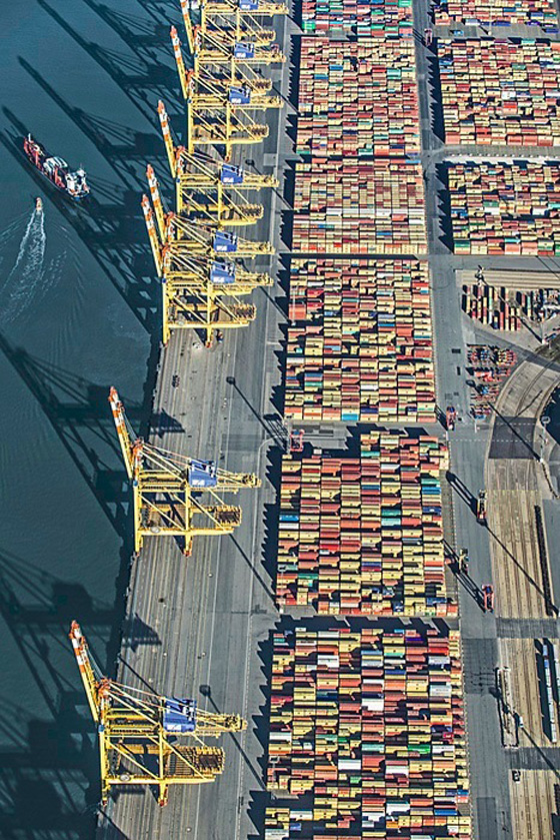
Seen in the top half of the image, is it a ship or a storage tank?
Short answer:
ship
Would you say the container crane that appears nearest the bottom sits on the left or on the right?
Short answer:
left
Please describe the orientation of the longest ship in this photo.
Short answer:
diagonally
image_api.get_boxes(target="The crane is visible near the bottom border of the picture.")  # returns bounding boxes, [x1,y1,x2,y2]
[68,614,249,809]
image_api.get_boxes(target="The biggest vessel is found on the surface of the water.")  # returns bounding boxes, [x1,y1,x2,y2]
[26,130,96,204]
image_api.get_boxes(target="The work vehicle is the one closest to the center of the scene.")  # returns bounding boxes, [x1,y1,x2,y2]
[289,433,301,458]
